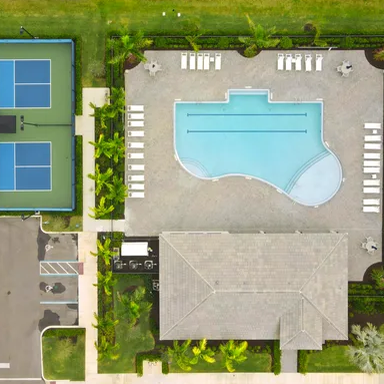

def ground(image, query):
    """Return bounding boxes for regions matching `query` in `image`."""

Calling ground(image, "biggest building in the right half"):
[160,228,350,351]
